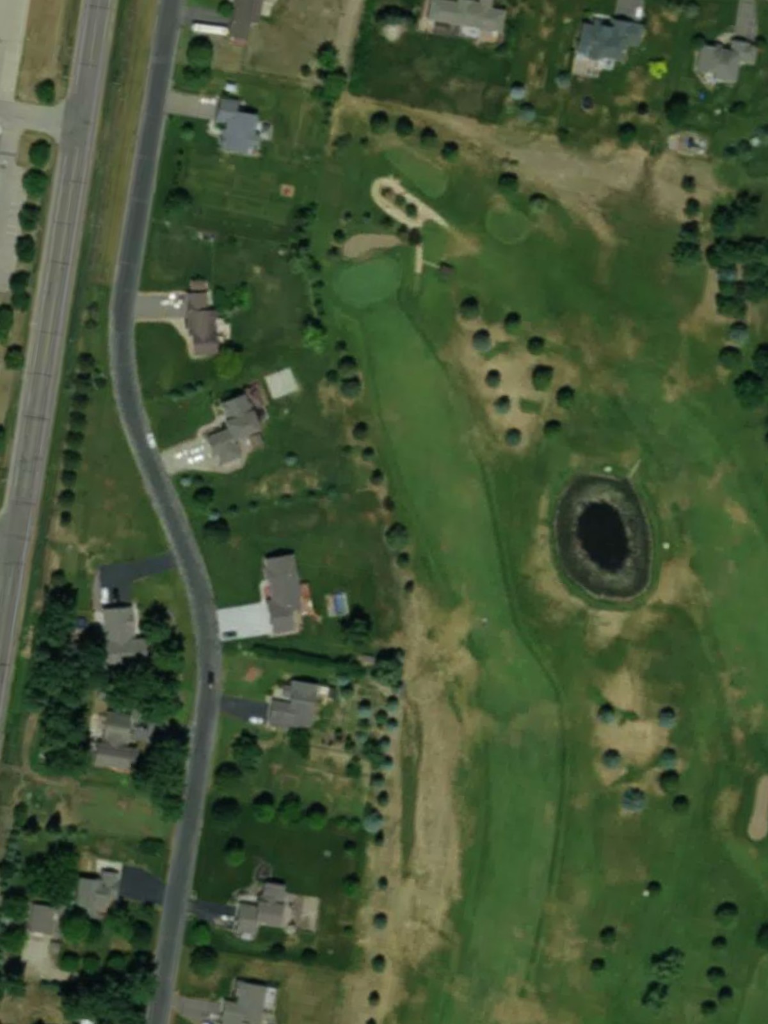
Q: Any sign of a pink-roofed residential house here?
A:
No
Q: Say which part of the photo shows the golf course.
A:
center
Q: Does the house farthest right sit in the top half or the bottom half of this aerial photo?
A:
top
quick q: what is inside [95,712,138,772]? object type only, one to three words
house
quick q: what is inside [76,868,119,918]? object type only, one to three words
house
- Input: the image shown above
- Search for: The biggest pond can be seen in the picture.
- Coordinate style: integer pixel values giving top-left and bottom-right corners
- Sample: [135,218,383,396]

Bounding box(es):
[555,473,650,600]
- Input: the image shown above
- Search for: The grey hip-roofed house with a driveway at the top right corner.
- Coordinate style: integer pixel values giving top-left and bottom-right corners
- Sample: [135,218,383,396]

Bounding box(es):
[696,37,757,85]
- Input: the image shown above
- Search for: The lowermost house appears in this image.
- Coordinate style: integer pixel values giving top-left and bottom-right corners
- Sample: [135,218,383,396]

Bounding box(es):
[220,981,277,1024]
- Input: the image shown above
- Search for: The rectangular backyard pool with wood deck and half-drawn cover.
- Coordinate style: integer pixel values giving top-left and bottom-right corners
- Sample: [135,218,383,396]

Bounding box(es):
[326,593,348,615]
